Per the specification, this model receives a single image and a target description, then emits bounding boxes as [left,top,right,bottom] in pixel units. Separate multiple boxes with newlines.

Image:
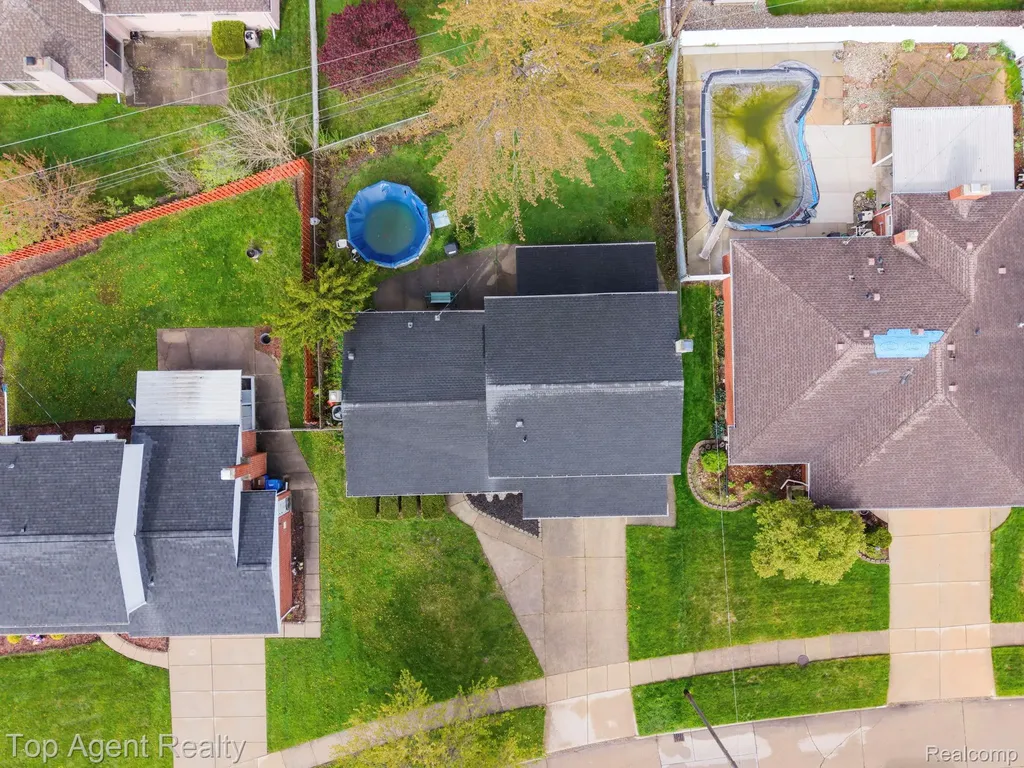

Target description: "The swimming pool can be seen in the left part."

[344,178,434,272]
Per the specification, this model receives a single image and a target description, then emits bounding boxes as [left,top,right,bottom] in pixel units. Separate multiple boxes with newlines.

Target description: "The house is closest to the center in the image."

[343,241,693,519]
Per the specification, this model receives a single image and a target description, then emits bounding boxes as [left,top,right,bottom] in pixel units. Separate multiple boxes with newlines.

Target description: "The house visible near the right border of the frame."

[718,104,1024,510]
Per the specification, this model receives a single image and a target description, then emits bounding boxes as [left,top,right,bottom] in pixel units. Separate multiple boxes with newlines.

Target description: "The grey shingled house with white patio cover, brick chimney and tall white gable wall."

[0,370,300,637]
